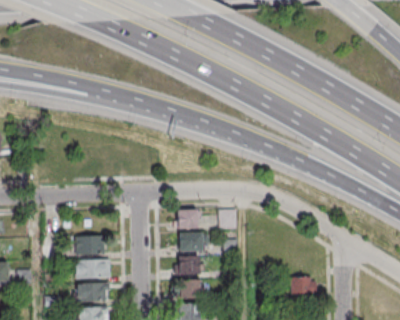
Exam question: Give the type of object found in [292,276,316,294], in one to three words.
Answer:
house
